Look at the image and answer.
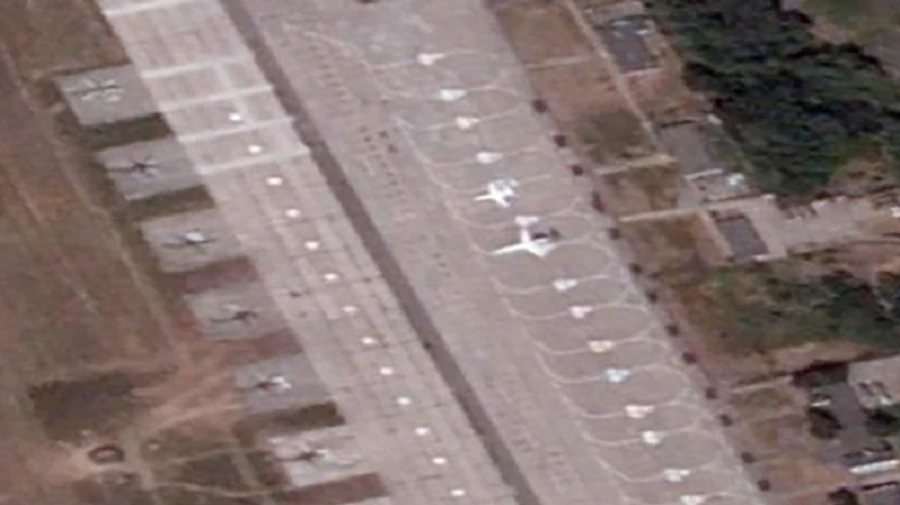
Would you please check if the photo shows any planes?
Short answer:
Yes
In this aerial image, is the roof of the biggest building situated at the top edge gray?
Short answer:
Yes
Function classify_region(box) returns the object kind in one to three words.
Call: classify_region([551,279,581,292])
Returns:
airplane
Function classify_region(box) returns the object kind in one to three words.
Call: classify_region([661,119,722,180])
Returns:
building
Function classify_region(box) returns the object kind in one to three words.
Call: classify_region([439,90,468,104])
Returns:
airplane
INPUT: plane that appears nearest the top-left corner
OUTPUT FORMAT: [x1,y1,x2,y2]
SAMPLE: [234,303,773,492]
[415,53,444,67]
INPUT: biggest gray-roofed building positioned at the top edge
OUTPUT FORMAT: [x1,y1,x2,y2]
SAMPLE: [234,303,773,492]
[603,17,657,79]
